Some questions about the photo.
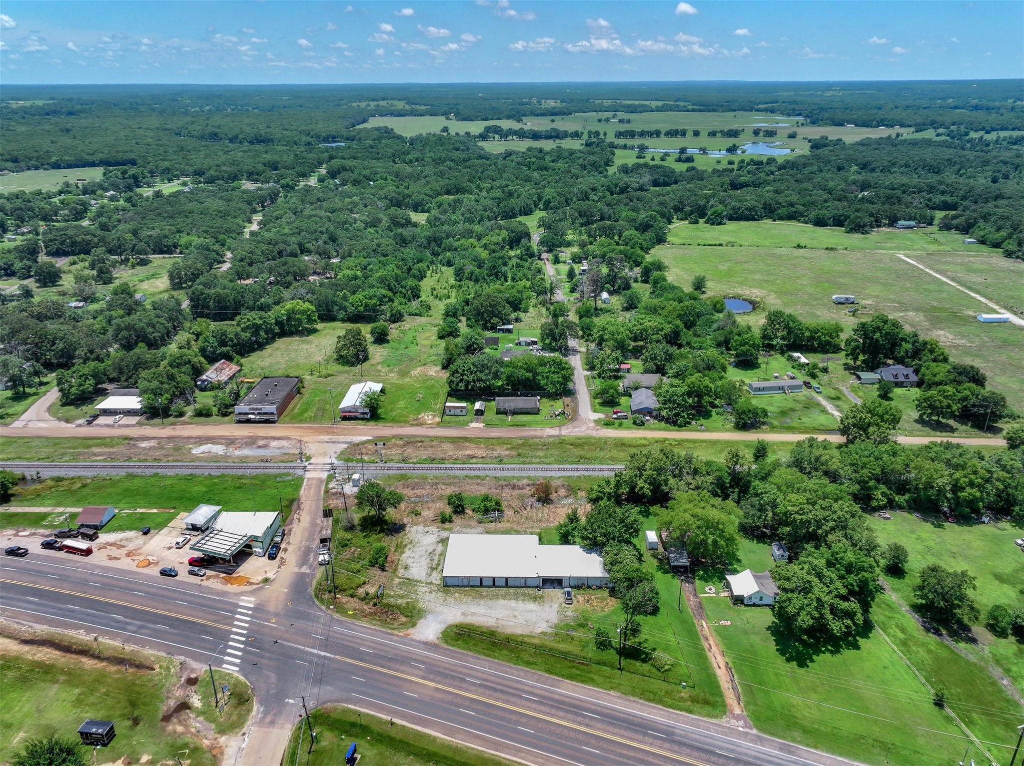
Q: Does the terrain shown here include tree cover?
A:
Yes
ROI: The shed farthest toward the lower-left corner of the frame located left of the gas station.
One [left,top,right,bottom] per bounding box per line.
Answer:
[75,507,115,532]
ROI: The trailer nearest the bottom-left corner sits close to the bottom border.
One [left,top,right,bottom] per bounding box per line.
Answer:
[77,719,115,746]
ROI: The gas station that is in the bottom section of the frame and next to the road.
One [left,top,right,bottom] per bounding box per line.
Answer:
[189,497,281,569]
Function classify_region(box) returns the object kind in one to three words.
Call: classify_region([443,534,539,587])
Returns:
building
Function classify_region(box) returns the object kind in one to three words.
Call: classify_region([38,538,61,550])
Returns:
vehicle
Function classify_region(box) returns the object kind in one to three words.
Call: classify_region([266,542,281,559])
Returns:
car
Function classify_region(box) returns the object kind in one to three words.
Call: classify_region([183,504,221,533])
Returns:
shed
